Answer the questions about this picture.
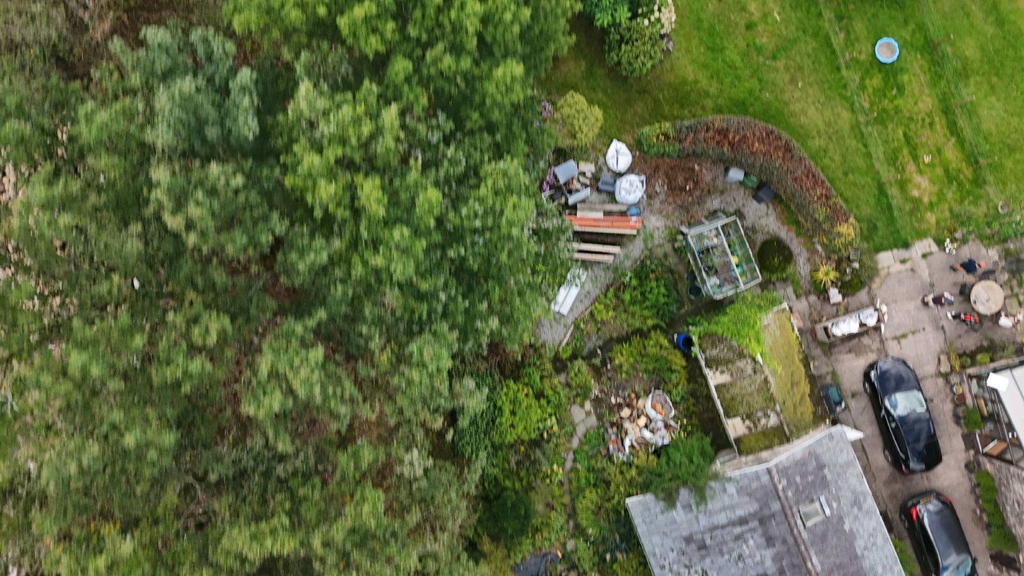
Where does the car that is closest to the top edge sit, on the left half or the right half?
right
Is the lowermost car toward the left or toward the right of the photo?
right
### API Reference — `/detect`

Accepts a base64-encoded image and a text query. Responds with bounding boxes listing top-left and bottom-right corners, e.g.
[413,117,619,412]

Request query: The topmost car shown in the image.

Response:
[863,353,947,481]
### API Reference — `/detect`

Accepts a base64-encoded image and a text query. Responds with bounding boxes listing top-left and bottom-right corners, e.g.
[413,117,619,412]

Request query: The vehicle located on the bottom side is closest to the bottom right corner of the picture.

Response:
[902,490,982,576]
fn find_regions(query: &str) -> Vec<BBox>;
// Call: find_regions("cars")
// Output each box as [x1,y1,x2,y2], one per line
[863,353,947,481]
[902,490,982,576]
